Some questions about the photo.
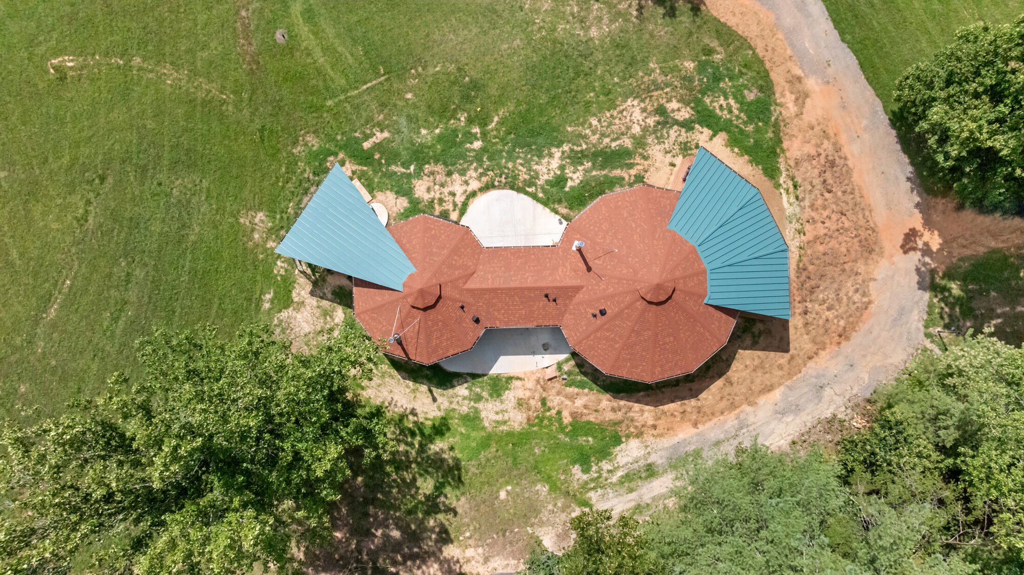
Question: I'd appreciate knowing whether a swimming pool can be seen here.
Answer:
No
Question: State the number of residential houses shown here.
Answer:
1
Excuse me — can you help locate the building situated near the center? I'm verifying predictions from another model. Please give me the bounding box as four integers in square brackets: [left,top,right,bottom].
[275,146,794,385]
